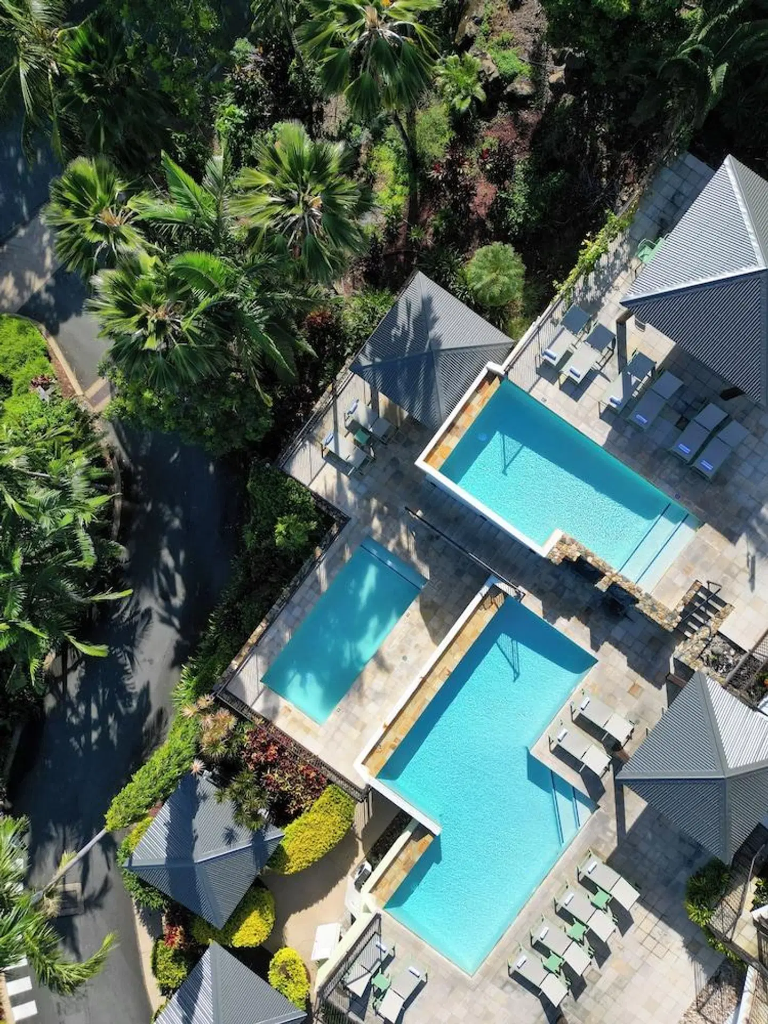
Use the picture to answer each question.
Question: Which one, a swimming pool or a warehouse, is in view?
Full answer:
I can see a swimming pool in this picture.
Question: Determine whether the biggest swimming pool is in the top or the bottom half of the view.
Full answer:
Seen from above, the biggest swimming pool lies in the bottom half of the view.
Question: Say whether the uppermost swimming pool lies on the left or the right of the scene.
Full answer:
The uppermost swimming pool is on the right side of the image.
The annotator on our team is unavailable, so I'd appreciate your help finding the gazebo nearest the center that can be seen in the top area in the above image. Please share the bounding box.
[349,271,510,430]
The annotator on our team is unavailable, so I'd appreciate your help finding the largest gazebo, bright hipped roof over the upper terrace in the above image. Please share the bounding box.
[618,152,768,408]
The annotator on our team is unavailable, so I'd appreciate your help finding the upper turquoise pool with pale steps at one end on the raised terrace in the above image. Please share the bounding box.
[413,364,700,593]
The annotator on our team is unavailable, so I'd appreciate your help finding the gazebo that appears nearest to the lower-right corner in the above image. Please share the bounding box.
[609,669,768,864]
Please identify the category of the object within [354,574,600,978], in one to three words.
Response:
swimming pool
